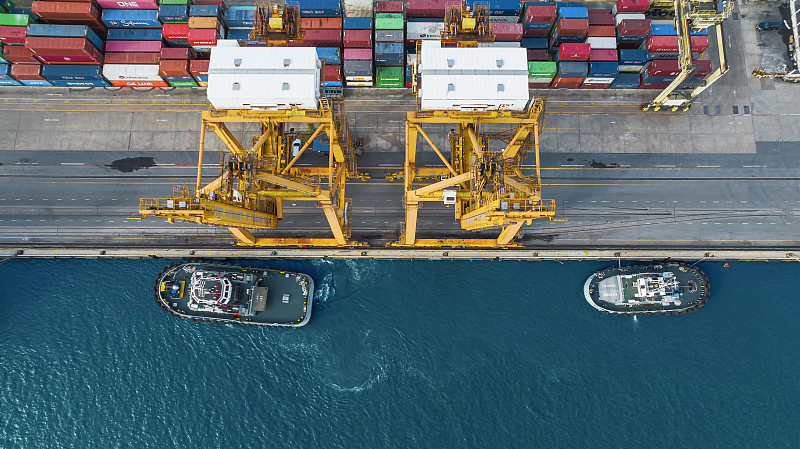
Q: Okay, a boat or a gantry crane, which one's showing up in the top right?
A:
gantry crane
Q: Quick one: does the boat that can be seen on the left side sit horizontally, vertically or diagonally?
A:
horizontally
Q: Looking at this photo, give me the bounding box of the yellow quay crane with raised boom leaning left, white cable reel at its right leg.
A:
[127,0,369,248]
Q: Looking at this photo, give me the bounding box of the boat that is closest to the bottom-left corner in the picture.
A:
[153,259,315,330]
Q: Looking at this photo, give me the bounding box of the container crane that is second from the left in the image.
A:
[384,0,570,248]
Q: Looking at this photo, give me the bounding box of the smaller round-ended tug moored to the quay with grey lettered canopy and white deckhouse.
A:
[584,261,712,318]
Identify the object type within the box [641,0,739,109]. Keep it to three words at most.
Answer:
container crane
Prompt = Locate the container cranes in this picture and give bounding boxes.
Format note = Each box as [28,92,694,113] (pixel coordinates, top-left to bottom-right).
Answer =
[127,0,369,248]
[384,0,570,248]
[641,0,739,109]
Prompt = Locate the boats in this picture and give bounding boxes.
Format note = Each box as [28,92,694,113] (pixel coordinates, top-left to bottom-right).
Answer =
[153,259,315,330]
[584,261,712,318]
